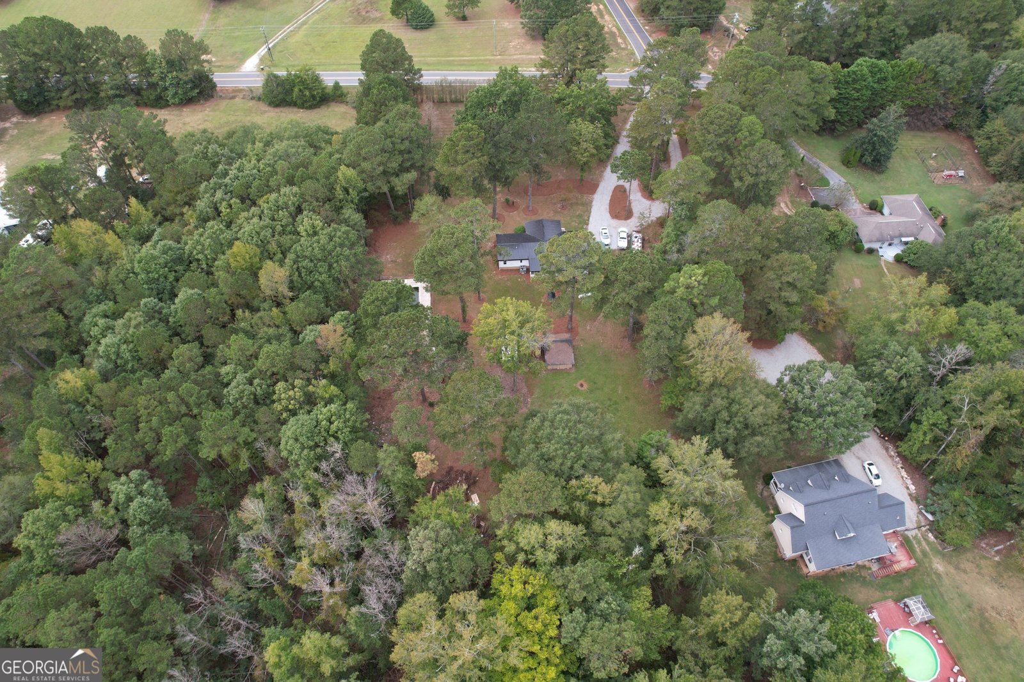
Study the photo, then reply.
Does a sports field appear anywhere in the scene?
No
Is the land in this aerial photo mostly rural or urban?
rural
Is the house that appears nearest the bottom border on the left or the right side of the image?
right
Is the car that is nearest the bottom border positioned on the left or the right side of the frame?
right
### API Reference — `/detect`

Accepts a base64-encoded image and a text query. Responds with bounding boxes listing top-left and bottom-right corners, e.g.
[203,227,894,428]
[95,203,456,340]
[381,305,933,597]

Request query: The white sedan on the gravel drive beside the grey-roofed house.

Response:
[861,459,885,489]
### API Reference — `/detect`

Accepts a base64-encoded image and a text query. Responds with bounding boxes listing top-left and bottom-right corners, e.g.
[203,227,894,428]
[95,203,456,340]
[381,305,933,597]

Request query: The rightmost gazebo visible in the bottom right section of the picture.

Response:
[897,596,934,626]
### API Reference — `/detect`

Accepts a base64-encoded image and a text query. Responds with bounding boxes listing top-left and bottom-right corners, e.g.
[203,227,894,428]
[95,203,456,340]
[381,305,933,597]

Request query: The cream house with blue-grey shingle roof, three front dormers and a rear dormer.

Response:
[769,458,910,574]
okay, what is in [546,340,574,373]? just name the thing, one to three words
building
